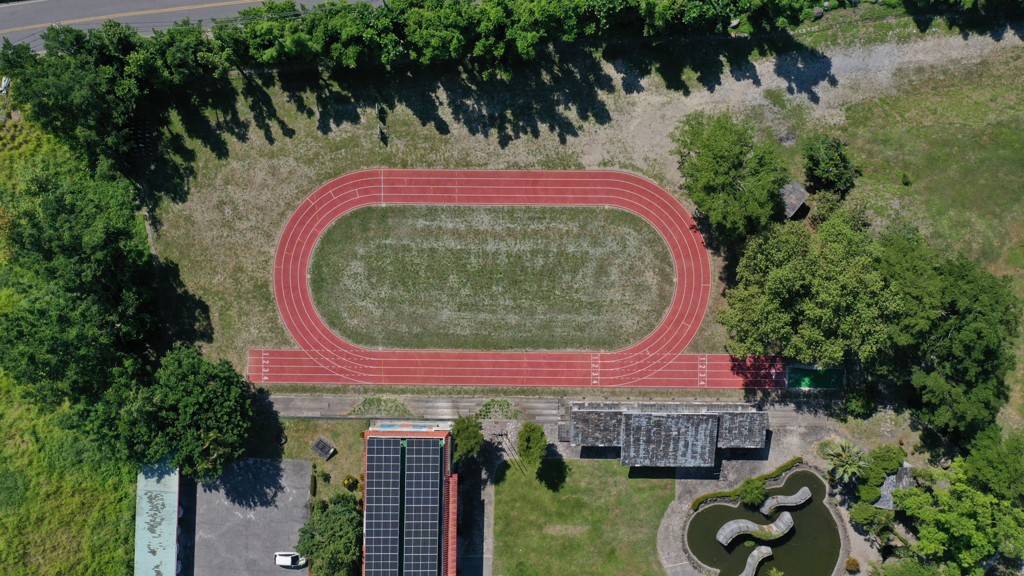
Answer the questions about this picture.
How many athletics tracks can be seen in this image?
1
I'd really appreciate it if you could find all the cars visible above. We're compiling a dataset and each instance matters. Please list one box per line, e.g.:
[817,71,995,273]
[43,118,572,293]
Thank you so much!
[274,550,306,567]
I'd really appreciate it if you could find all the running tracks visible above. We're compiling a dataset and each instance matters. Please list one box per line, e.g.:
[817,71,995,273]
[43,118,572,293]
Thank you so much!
[247,169,785,388]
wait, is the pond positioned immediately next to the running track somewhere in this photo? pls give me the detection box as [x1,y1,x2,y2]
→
[678,462,850,576]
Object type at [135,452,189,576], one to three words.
shed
